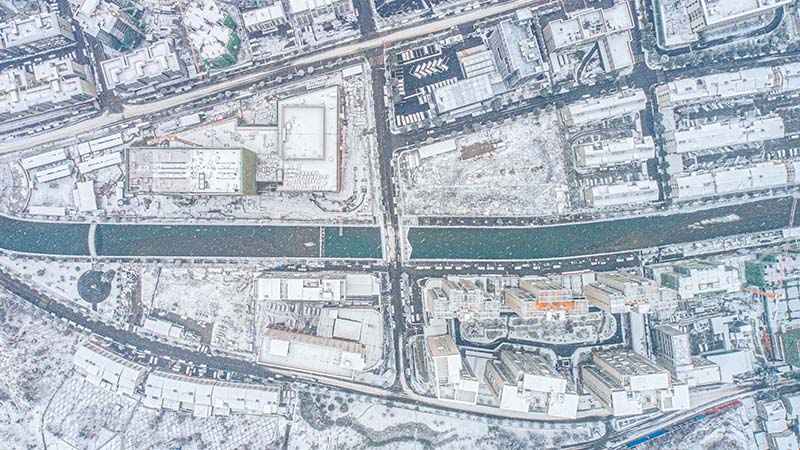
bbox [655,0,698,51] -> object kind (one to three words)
building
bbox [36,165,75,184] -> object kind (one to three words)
shed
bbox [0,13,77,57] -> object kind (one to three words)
building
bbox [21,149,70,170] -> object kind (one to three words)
shed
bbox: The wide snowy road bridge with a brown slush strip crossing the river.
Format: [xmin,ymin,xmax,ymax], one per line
[381,225,412,260]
